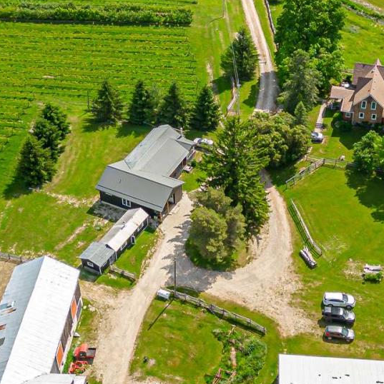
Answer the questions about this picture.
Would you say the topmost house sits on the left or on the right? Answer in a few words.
right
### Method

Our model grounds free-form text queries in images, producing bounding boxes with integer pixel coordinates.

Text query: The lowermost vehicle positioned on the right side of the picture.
[325,328,354,344]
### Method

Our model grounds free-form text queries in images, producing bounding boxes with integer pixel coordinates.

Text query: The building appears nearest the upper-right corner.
[329,51,384,131]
